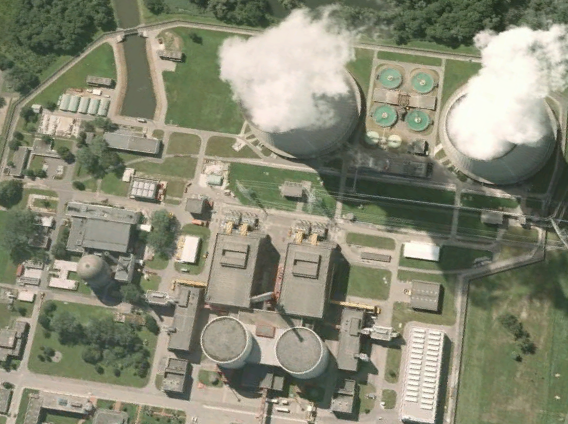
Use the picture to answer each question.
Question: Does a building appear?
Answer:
Yes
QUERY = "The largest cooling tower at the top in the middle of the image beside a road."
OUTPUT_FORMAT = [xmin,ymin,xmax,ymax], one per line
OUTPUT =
[245,44,359,157]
